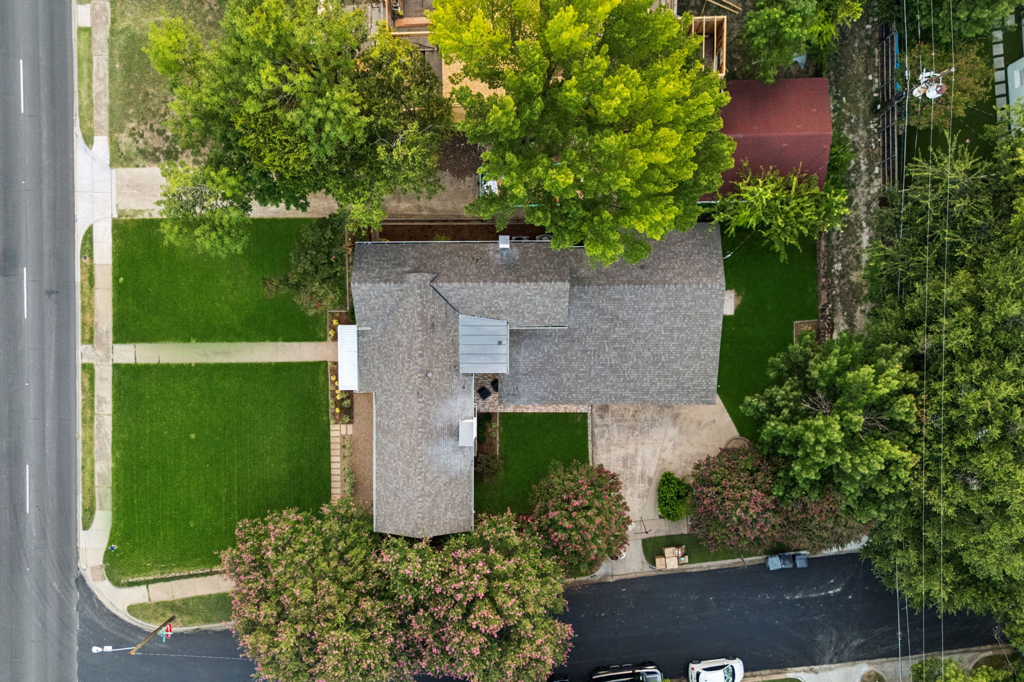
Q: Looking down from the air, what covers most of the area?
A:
trees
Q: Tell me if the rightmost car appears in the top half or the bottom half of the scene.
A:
bottom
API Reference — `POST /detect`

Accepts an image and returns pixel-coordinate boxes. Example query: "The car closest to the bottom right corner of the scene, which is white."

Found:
[688,657,745,682]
